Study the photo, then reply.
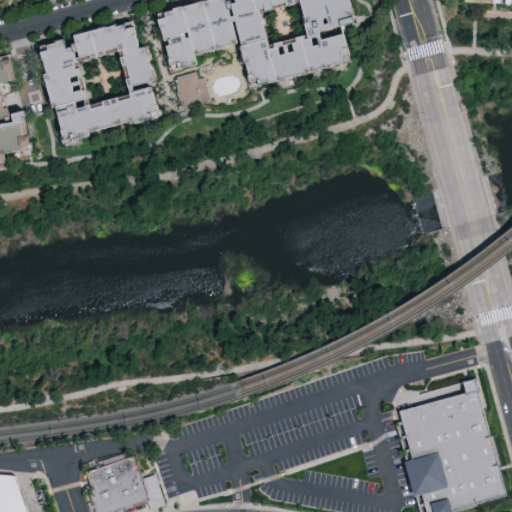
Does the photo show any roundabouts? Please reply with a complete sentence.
No, there's no roundabout here.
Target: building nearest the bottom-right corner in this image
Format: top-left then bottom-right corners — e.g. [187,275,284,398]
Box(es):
[384,377,506,512]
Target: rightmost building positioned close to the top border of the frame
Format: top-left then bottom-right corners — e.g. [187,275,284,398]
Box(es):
[231,0,354,86]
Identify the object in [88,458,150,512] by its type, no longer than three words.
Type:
building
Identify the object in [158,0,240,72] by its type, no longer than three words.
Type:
building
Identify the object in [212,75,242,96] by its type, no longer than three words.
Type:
swimming pool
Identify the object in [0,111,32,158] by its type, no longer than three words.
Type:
house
